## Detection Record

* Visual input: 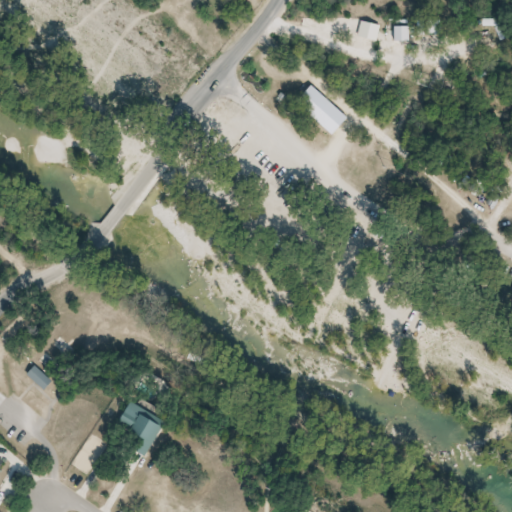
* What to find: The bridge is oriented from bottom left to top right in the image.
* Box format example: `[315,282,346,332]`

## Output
[88,176,162,247]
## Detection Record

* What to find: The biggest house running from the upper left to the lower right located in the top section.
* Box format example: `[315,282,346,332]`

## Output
[304,86,347,134]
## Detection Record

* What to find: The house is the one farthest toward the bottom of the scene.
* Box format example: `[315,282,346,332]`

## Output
[122,400,163,455]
